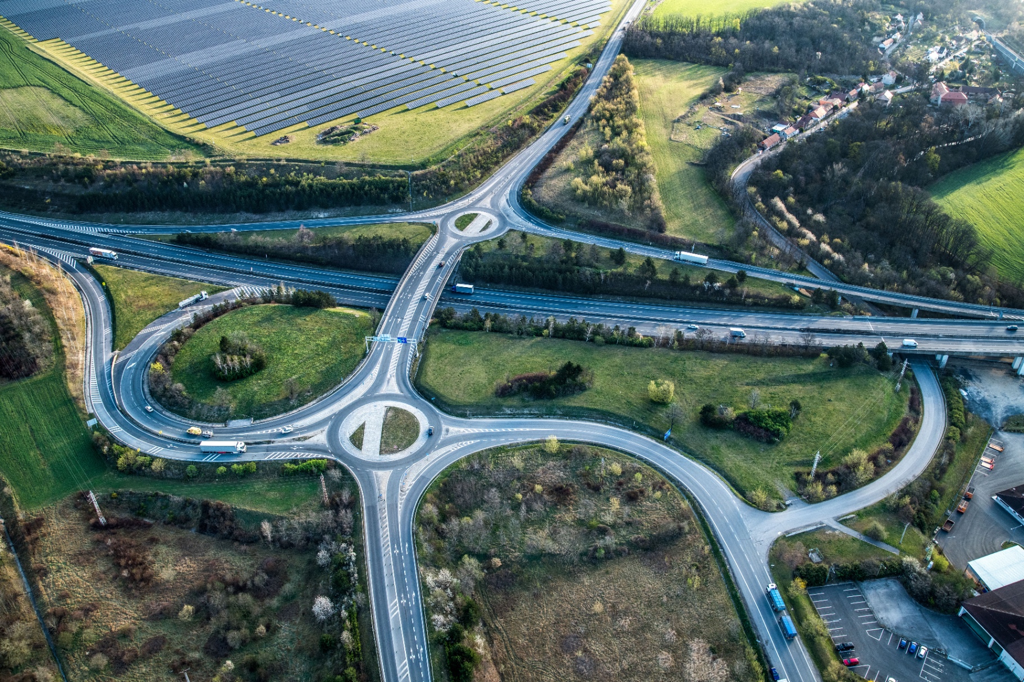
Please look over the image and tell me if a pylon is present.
Yes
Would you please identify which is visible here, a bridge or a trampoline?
bridge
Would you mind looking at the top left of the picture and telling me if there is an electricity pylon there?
No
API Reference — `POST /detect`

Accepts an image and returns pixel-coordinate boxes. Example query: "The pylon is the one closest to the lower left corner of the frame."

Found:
[83,491,106,527]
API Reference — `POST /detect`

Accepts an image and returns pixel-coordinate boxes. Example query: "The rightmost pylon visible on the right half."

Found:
[894,360,912,393]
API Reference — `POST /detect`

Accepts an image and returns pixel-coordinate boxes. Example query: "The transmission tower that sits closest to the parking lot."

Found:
[808,451,824,478]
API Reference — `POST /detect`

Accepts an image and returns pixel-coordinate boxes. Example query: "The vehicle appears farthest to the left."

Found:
[86,245,119,260]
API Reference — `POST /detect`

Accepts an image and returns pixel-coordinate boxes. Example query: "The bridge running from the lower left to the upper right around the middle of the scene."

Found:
[375,231,466,334]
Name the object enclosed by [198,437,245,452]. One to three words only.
vehicle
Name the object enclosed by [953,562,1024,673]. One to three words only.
building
